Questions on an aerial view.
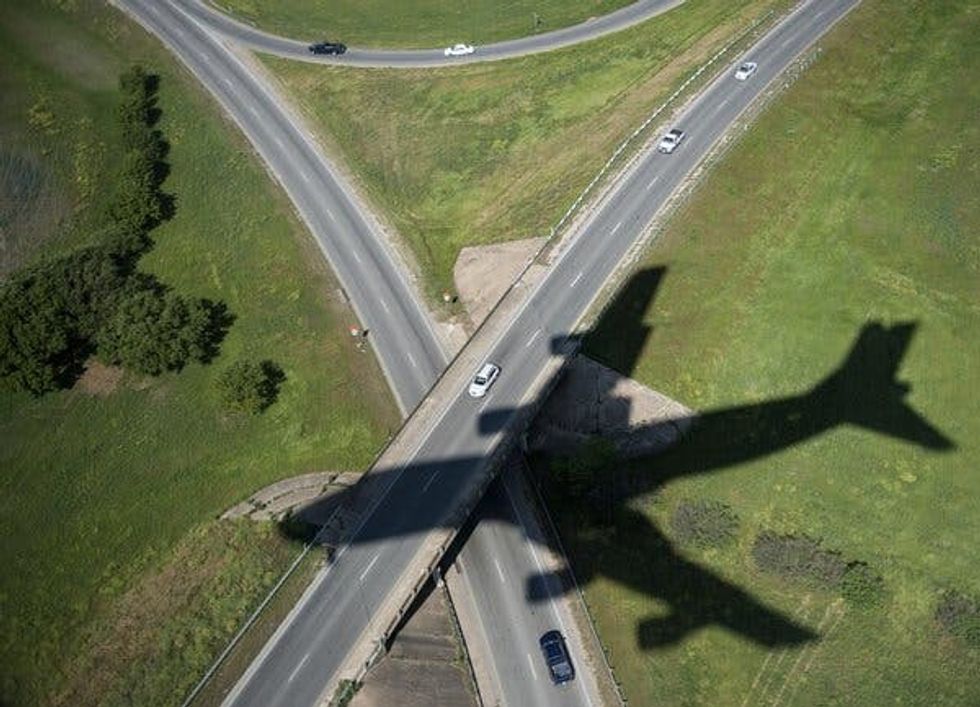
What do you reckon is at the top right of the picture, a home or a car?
car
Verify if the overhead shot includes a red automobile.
No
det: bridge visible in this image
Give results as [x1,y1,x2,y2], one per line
[230,236,685,707]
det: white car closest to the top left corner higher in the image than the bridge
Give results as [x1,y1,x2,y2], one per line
[444,44,475,59]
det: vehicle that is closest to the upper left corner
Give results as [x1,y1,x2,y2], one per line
[308,41,345,58]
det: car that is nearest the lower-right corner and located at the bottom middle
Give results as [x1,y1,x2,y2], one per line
[539,629,576,691]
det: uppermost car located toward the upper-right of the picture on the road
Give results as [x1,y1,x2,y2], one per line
[732,62,758,84]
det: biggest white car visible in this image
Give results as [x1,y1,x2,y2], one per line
[465,362,502,403]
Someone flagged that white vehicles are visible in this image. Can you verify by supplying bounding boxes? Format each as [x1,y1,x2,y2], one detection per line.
[732,62,758,84]
[444,44,475,59]
[465,362,502,403]
[656,126,687,157]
